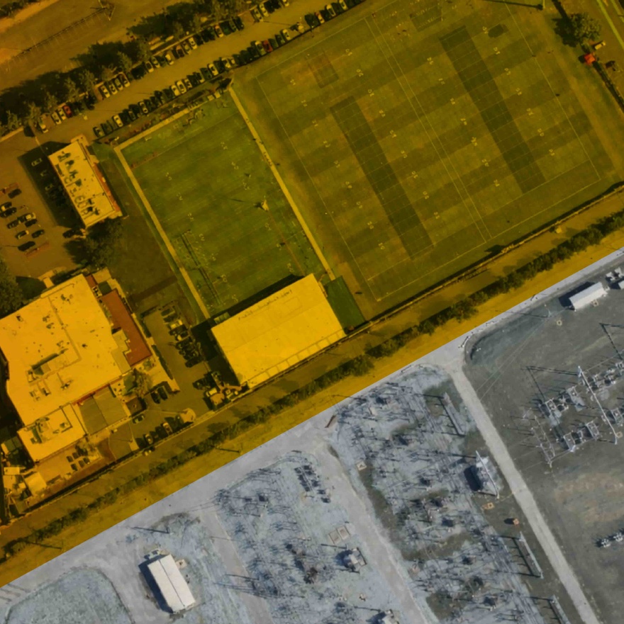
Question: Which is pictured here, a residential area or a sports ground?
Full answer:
The area seen from above is a sports ground.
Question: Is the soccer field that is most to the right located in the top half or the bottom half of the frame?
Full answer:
You can find the soccer field that is most to the right in the top half.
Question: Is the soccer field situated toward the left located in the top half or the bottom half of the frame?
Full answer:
The soccer field situated toward the left sits in the top half of the picture.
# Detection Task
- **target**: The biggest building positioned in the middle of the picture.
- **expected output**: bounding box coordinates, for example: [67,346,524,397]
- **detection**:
[210,274,347,389]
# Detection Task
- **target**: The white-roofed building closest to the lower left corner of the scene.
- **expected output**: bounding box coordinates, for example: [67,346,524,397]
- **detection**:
[149,555,196,614]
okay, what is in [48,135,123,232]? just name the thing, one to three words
building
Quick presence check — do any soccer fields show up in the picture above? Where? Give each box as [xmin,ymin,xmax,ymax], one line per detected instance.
[97,80,366,331]
[236,0,624,319]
